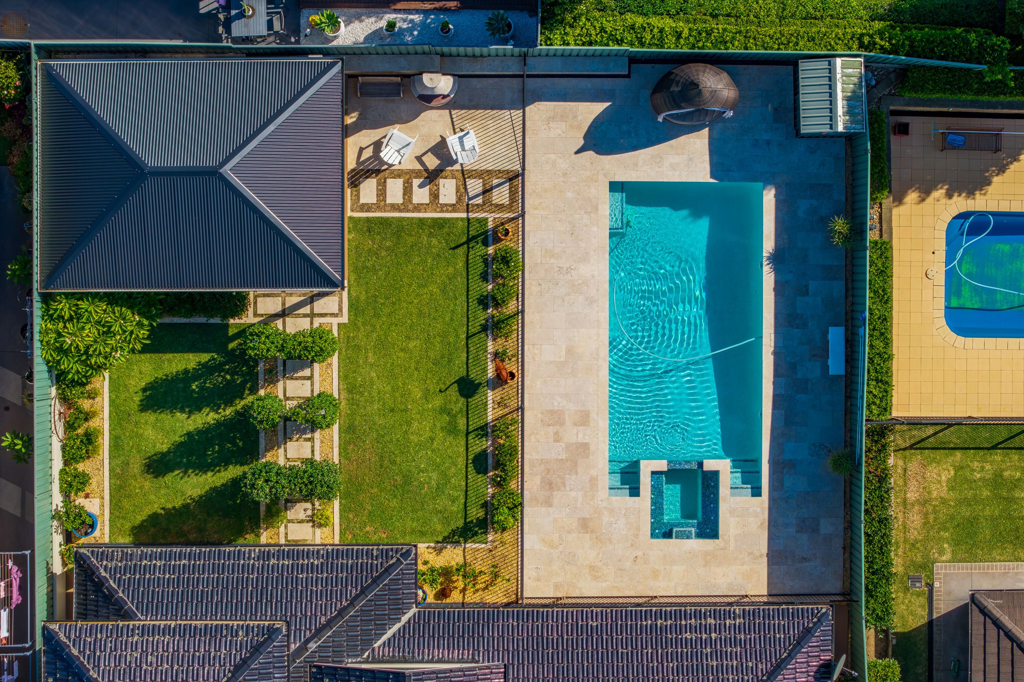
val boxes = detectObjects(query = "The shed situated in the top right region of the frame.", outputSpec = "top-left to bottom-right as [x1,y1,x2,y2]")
[794,56,865,137]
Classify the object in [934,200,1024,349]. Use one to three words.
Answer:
swimming pool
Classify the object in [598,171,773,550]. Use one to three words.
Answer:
swimming pool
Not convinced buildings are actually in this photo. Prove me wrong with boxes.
[38,59,350,291]
[39,544,835,682]
[794,56,865,137]
[963,587,1024,682]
